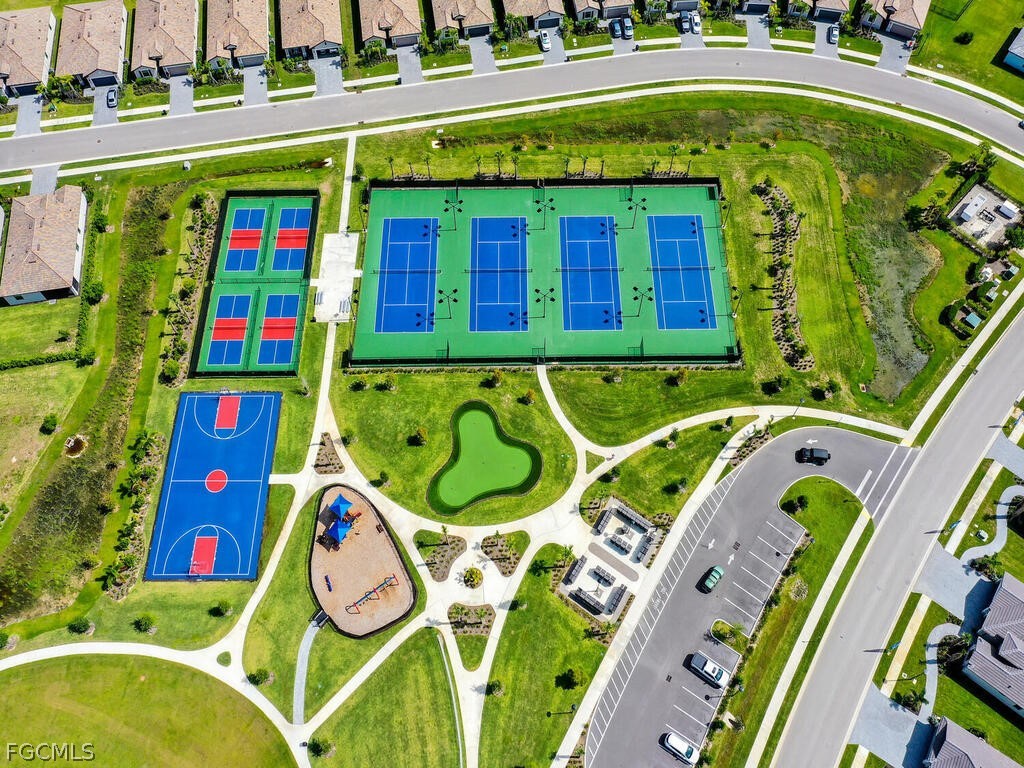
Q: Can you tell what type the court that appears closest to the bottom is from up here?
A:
basketball court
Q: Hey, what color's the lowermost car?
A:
white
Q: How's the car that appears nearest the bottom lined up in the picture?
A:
diagonally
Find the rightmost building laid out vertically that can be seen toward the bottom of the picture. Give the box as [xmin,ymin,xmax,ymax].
[958,571,1024,712]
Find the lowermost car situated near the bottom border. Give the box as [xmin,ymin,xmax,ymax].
[665,731,702,765]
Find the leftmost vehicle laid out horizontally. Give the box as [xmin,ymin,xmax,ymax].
[797,447,834,462]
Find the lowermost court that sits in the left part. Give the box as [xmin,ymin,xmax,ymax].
[142,391,284,582]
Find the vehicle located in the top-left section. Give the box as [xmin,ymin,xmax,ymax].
[105,87,117,106]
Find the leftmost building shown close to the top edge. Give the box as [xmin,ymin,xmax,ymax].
[0,6,55,99]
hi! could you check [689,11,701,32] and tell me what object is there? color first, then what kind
white vehicle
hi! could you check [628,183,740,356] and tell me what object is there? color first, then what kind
green tennis court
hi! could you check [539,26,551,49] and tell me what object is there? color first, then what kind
white vehicle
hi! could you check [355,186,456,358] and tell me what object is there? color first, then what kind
green tennis court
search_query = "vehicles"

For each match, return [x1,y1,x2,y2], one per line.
[693,651,731,686]
[665,731,702,765]
[610,16,622,36]
[689,11,701,32]
[105,87,117,106]
[797,447,834,462]
[679,6,691,30]
[830,22,841,42]
[621,10,634,37]
[539,26,551,49]
[704,563,724,590]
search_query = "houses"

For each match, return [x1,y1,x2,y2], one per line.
[501,0,565,26]
[0,185,86,305]
[865,0,934,37]
[207,0,268,71]
[131,0,198,81]
[0,6,55,99]
[641,0,698,17]
[920,716,1024,768]
[958,571,1024,712]
[56,0,126,85]
[432,0,494,40]
[280,0,342,57]
[785,0,849,20]
[571,0,634,24]
[1005,33,1024,72]
[358,0,421,52]
[713,0,774,13]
